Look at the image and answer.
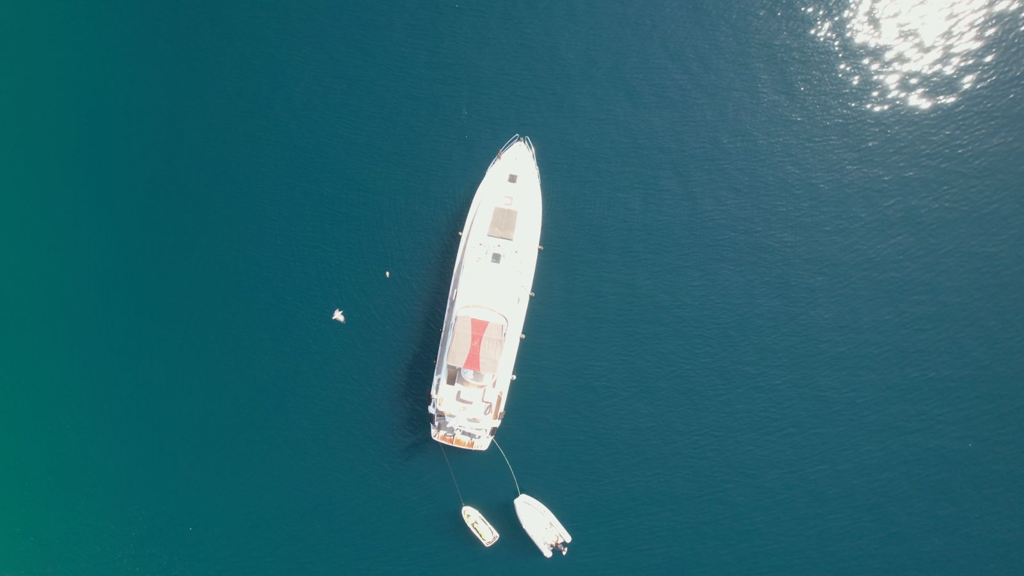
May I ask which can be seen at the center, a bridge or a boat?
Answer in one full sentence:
There is a boat at the center.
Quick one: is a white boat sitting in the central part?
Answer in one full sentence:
Yes, I can see a white boat in the central part.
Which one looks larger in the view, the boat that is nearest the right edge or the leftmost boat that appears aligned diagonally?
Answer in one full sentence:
The leftmost boat that appears aligned diagonally is smaller than the boat that is nearest the right edge.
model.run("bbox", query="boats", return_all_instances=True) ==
[514,495,572,558]
[428,134,541,451]
[463,506,500,547]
